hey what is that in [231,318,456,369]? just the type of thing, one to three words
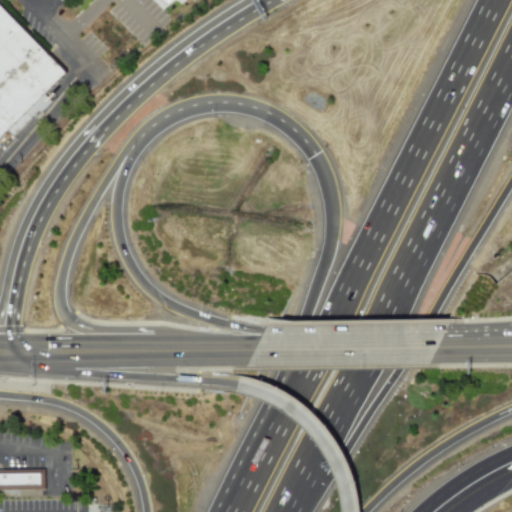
overpass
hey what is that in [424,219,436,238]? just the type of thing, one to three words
vehicle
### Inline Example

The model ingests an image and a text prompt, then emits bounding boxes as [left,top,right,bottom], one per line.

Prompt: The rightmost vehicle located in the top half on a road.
[499,102,511,119]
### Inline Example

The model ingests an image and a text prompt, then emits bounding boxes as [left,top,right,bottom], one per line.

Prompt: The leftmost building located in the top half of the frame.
[0,5,66,137]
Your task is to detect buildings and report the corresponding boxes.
[154,0,182,12]
[0,5,66,137]
[0,468,48,488]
